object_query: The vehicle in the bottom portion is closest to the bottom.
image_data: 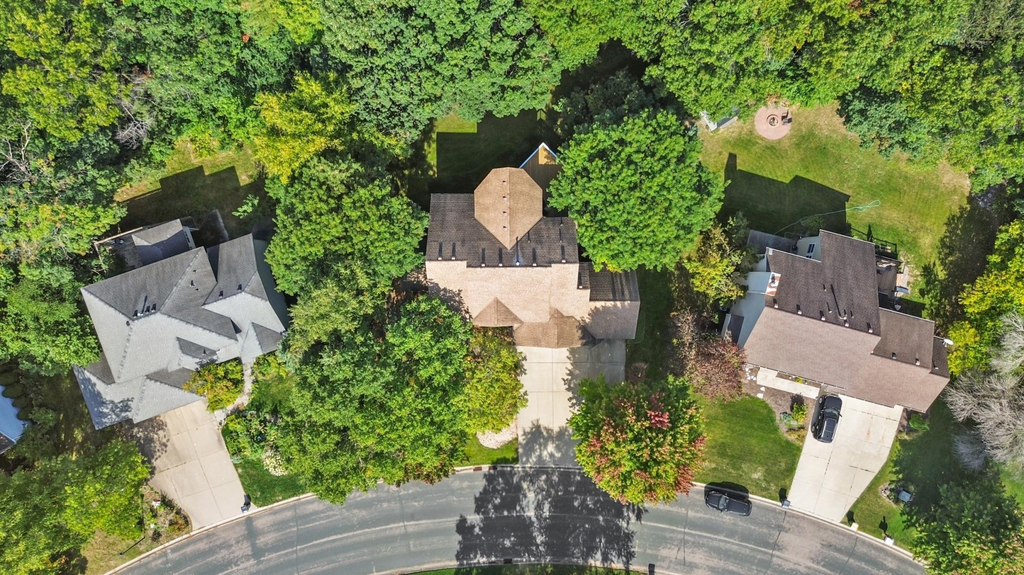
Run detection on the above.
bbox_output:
[704,485,753,515]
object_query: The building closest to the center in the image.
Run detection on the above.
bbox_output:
[426,167,640,348]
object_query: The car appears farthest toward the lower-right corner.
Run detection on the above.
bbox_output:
[812,393,843,444]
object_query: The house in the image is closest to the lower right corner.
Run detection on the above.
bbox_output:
[716,228,950,413]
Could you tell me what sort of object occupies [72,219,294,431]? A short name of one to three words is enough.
house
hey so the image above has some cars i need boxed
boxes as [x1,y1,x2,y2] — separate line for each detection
[812,393,843,444]
[704,485,753,515]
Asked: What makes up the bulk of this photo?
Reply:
trees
